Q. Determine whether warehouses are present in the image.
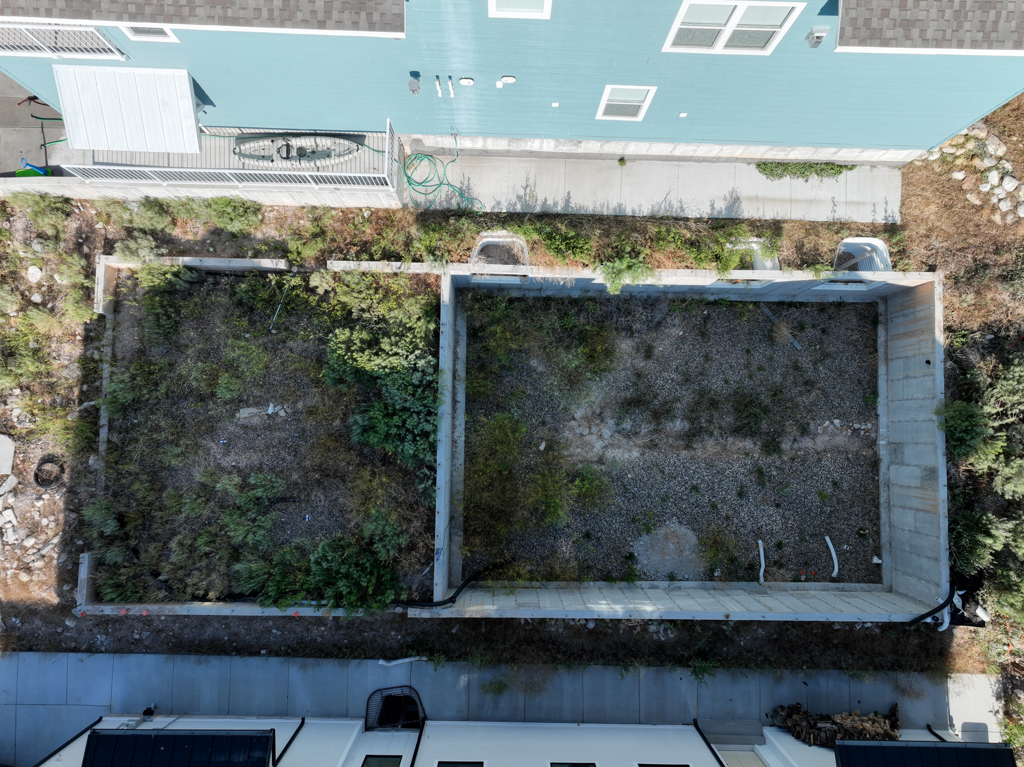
No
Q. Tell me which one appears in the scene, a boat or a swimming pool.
boat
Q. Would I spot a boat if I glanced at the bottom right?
No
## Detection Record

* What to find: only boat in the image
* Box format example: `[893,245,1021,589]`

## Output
[227,131,361,165]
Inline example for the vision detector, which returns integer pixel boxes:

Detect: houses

[0,0,1024,168]
[32,697,1019,767]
